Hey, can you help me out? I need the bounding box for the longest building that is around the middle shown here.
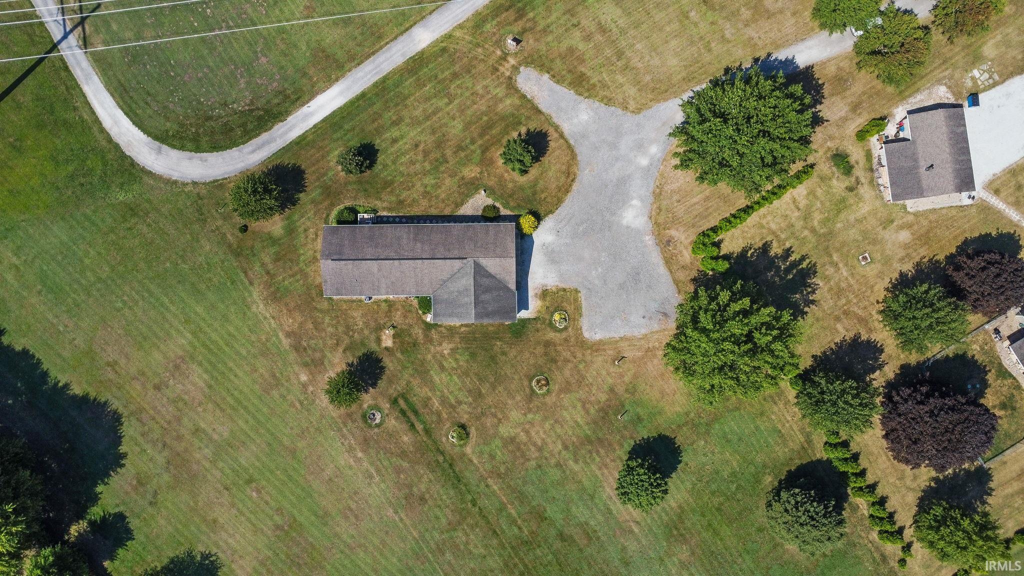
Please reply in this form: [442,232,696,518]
[321,223,517,323]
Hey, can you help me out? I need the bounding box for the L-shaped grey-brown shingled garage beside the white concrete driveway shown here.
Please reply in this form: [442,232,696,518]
[880,108,976,202]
